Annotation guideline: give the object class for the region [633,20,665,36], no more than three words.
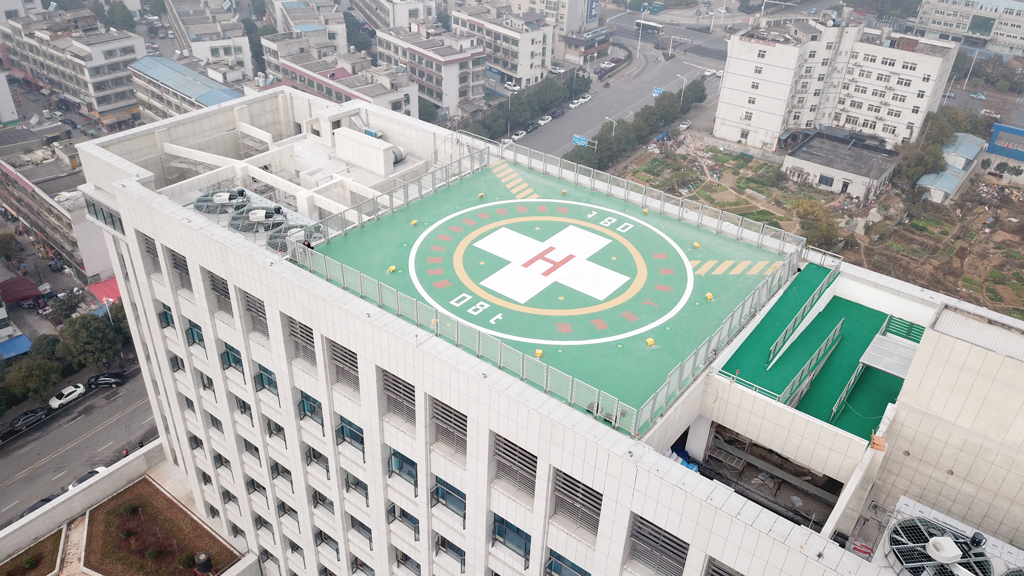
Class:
vehicle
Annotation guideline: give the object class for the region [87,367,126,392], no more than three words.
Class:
car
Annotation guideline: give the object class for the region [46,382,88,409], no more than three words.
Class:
car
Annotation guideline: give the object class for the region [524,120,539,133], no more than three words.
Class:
vehicle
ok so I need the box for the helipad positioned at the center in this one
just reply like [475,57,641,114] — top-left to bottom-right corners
[289,160,800,440]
